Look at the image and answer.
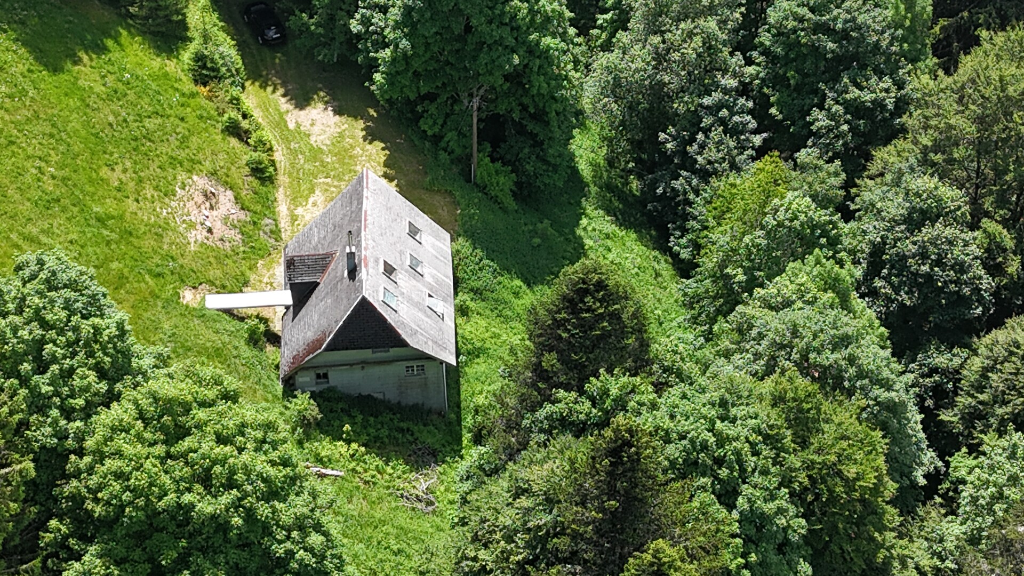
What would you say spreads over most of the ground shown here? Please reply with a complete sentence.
The scene is dominated by trees.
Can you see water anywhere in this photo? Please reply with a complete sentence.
No, water can't be seen anywhere here.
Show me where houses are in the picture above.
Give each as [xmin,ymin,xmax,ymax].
[278,169,458,412]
